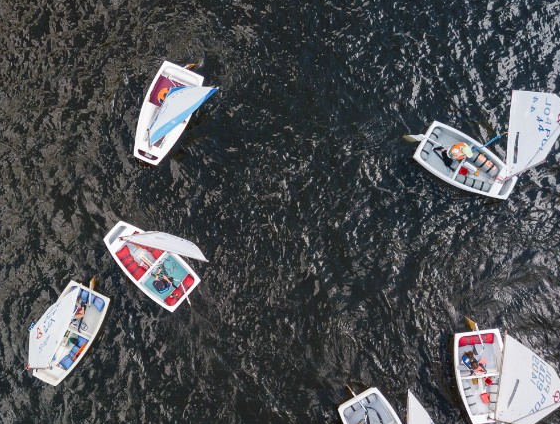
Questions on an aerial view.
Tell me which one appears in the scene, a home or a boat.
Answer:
boat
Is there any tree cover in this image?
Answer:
No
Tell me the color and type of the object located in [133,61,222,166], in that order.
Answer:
white boat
